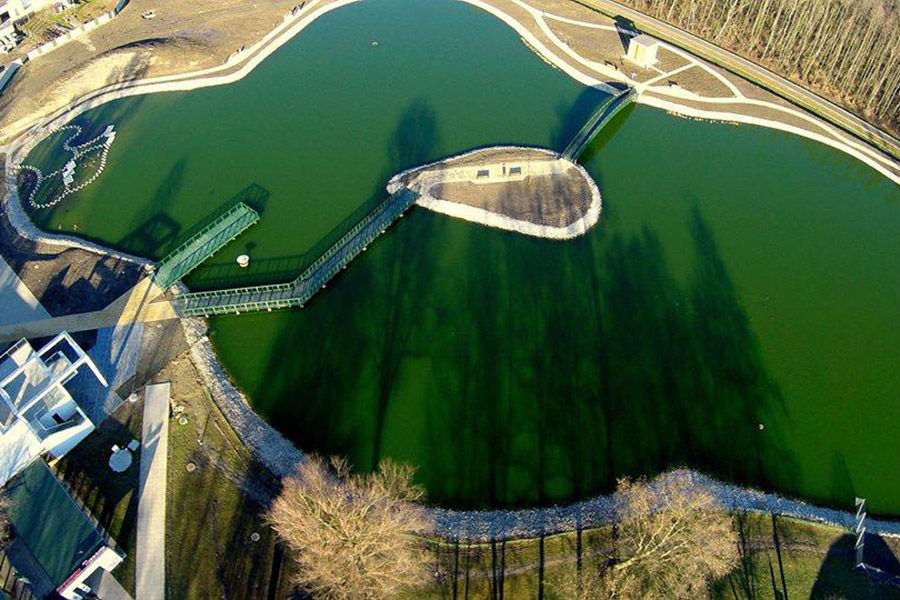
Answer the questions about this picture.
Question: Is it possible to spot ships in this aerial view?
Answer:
No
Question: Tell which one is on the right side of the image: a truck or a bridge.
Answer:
bridge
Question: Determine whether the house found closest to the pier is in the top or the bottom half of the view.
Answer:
bottom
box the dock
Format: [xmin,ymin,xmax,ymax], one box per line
[152,202,258,295]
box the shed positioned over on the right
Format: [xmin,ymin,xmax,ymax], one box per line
[621,32,661,73]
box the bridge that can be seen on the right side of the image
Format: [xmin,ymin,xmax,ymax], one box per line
[560,85,643,170]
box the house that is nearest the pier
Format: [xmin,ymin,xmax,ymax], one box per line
[0,333,109,526]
